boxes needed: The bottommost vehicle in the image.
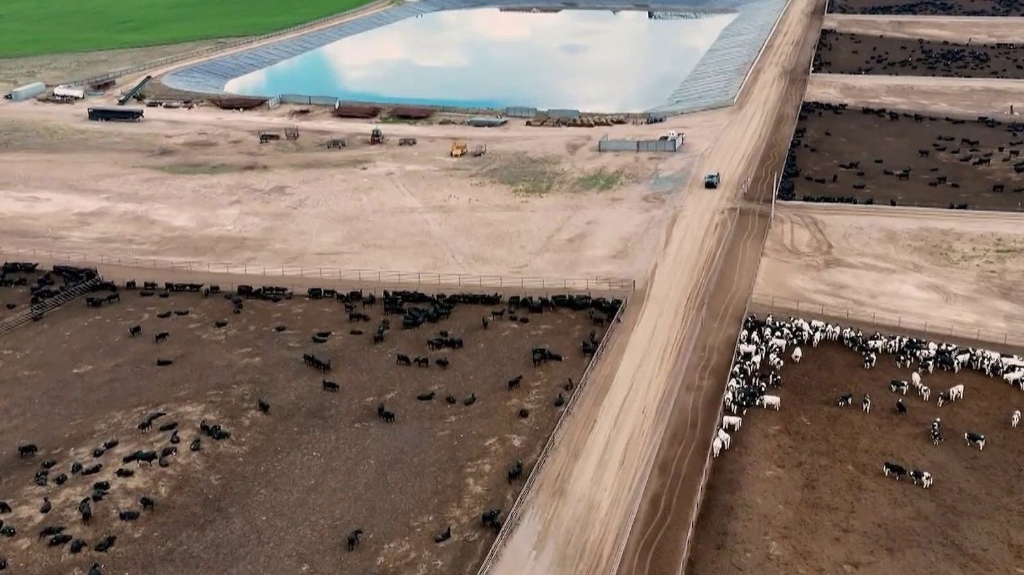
[705,171,720,188]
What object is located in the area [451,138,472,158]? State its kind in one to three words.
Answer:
vehicle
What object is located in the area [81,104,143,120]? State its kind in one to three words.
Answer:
trailer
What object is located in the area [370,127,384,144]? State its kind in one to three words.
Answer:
work vehicle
